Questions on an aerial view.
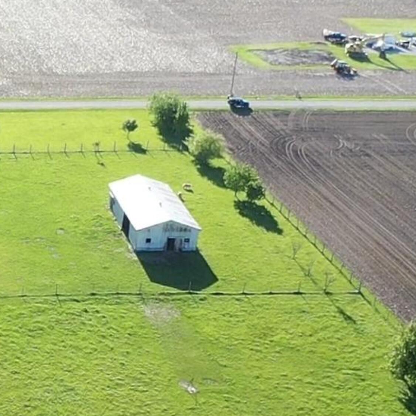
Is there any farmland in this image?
Yes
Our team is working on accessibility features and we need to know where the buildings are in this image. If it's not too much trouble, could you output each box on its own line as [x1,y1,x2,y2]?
[107,174,205,251]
